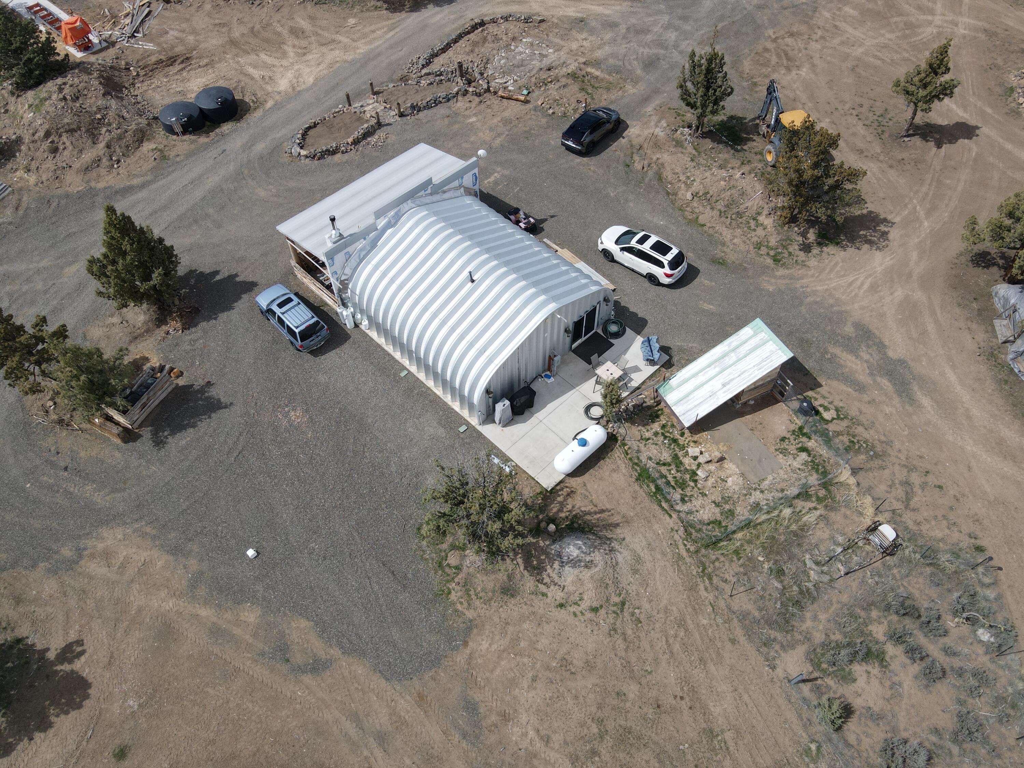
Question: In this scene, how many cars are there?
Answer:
3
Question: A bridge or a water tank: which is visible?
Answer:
water tank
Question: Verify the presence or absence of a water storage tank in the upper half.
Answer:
Yes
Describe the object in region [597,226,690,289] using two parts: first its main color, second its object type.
white car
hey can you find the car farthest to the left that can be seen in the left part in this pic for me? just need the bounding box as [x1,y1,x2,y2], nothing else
[257,284,337,357]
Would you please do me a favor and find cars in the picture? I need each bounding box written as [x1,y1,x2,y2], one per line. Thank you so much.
[597,226,690,289]
[560,107,621,155]
[257,284,337,357]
